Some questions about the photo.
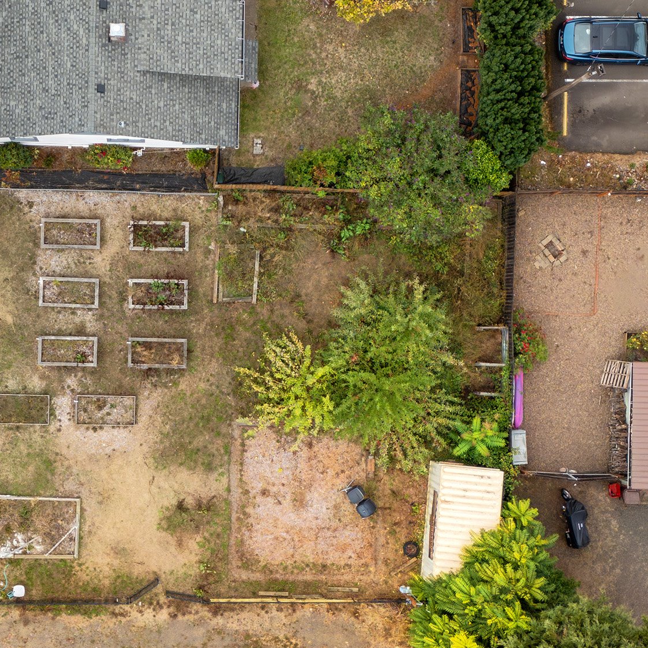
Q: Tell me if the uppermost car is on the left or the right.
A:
right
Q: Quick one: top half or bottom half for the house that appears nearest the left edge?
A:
top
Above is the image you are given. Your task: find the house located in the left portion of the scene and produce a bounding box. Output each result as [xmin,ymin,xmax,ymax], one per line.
[0,0,259,155]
